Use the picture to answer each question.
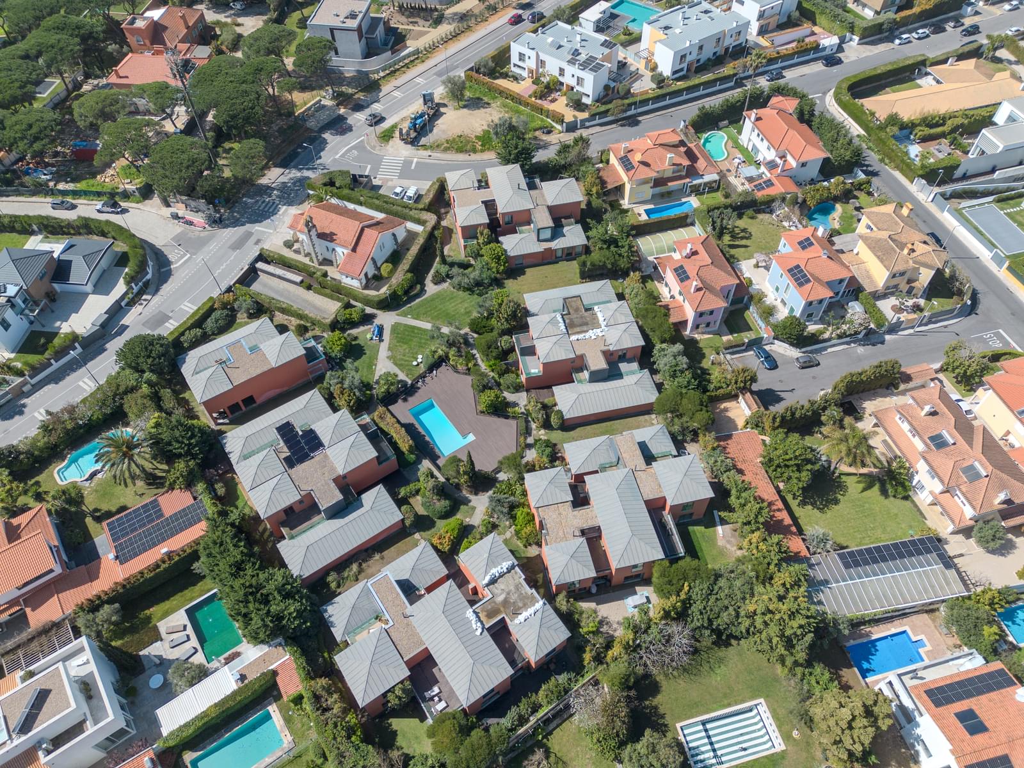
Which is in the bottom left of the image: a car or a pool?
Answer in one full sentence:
You can see a pool in the bottom left of the image.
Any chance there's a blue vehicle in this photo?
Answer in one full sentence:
Yes, a blue vehicle can be made out from above.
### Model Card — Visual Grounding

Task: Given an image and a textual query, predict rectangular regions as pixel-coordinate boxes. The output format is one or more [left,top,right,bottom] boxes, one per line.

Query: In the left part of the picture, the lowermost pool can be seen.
[181,701,292,768]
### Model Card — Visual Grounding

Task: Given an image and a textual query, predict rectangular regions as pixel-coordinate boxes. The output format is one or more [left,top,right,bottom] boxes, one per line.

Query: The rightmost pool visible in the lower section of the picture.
[997,601,1024,647]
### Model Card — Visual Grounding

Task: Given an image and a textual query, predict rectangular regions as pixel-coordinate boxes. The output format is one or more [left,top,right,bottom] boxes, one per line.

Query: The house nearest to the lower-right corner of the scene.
[876,651,1024,768]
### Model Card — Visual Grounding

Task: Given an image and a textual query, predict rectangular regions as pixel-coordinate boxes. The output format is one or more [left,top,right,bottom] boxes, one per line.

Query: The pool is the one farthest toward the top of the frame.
[613,0,664,29]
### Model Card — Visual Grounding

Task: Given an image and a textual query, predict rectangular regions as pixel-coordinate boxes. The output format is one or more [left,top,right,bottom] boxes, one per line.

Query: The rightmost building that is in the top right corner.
[948,96,1024,175]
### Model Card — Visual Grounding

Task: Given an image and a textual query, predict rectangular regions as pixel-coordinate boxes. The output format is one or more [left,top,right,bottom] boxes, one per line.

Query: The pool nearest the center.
[409,398,476,458]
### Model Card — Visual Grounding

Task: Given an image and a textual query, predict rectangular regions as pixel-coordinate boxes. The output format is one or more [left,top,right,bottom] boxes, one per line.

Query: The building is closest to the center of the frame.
[513,280,658,431]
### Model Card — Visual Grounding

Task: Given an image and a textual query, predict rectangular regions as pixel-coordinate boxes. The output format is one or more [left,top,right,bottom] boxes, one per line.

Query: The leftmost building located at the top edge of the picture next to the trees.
[107,0,217,97]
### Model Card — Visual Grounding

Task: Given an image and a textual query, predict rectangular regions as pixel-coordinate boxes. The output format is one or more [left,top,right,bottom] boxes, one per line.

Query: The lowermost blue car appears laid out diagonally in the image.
[751,344,778,371]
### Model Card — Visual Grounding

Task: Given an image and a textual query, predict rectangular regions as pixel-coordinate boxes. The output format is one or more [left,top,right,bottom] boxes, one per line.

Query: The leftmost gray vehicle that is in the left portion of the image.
[48,198,75,211]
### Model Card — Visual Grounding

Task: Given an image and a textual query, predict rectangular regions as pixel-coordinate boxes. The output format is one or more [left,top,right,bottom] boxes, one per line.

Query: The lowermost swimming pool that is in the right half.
[675,697,783,768]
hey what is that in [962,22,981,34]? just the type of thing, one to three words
vehicle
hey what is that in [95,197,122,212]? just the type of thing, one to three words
car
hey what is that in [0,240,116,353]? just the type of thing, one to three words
house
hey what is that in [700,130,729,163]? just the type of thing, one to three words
swimming pool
